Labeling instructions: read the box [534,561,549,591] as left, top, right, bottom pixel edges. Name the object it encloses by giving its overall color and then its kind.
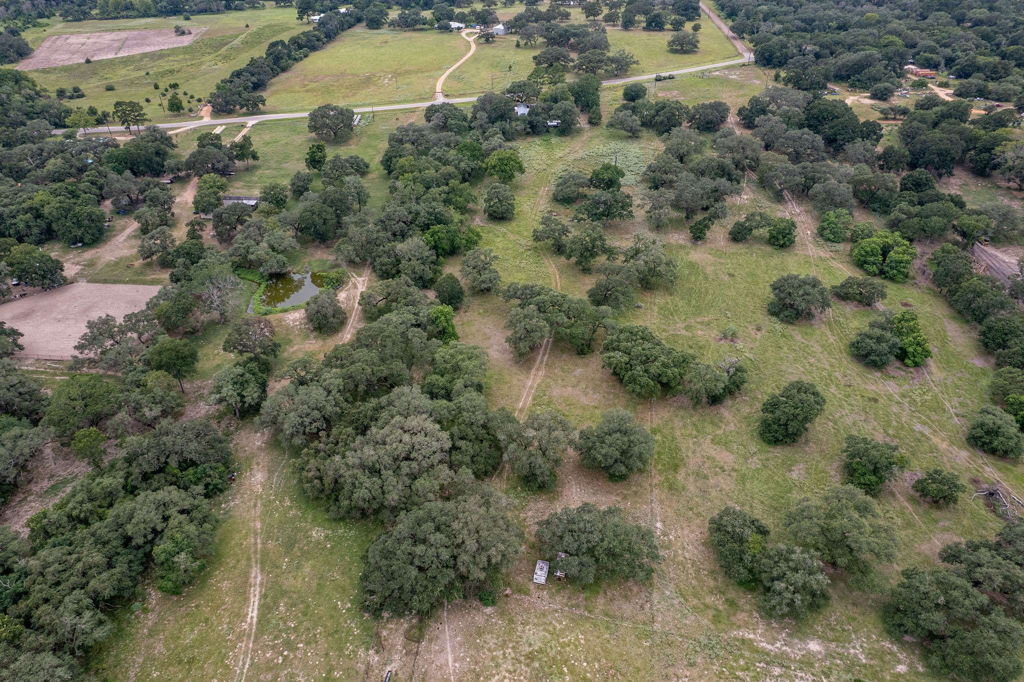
white vehicle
